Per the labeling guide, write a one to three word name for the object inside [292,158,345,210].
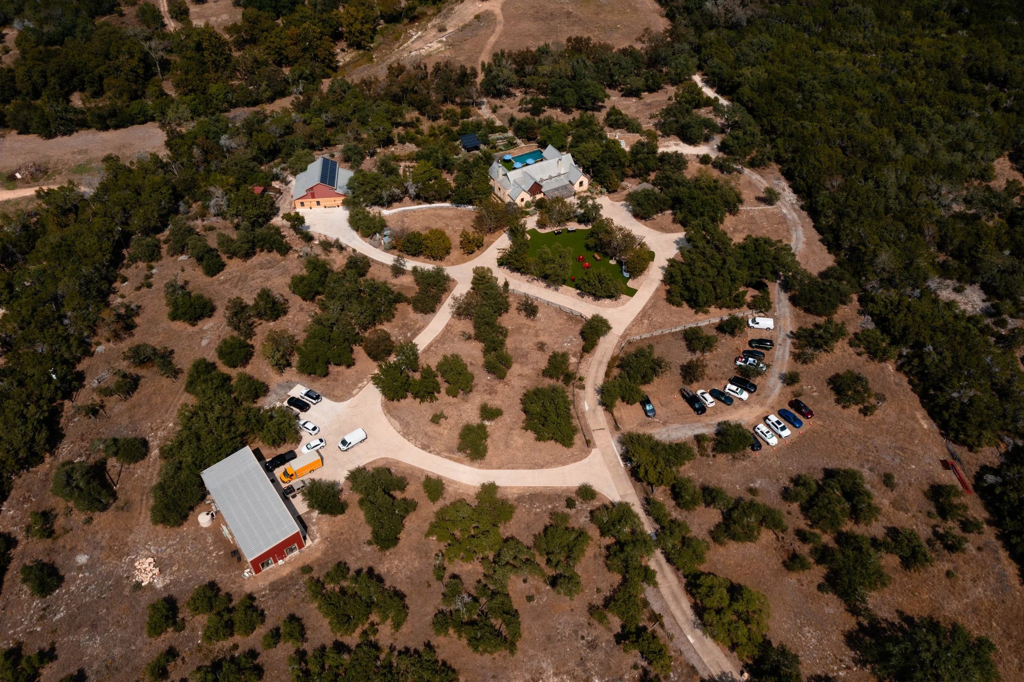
building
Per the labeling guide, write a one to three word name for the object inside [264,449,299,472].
truck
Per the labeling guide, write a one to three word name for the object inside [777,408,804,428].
car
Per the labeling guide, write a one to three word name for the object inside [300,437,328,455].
car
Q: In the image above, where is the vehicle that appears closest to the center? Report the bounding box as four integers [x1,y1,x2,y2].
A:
[641,396,656,416]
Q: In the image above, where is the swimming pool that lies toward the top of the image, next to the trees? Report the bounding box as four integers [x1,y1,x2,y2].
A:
[510,148,543,163]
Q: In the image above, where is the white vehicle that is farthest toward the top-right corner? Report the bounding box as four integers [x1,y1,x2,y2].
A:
[747,318,776,331]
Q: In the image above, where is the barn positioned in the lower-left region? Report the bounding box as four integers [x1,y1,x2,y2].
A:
[200,447,305,576]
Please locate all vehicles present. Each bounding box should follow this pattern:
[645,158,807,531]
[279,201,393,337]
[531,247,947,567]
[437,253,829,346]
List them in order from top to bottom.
[747,318,776,331]
[749,338,775,350]
[731,374,757,393]
[723,383,749,401]
[680,387,706,412]
[298,388,323,403]
[695,389,718,408]
[709,389,734,406]
[285,396,312,412]
[641,396,656,416]
[788,397,815,418]
[777,408,804,428]
[764,414,792,438]
[297,421,322,436]
[753,423,779,445]
[338,426,370,452]
[742,427,764,450]
[300,437,328,455]
[264,449,299,472]
[281,450,323,483]
[280,476,314,499]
